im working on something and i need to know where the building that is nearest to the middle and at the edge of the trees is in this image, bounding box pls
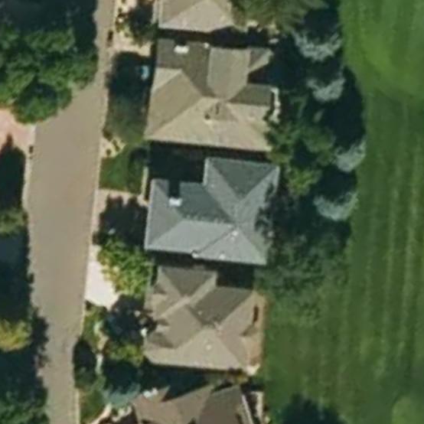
[145,156,282,270]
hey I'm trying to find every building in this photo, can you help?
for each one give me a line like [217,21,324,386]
[149,0,240,30]
[142,268,263,374]
[145,156,282,270]
[142,38,276,152]
[134,388,248,424]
